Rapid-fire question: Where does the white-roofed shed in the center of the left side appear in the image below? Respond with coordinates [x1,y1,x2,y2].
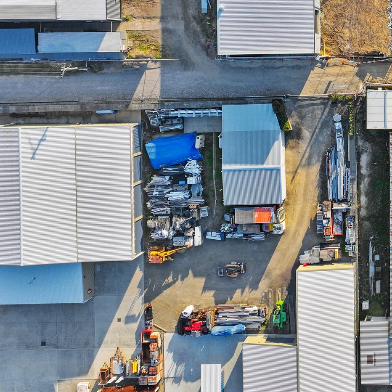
[0,122,152,304]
